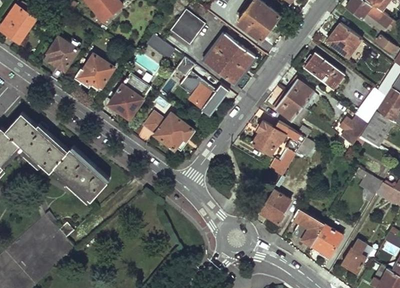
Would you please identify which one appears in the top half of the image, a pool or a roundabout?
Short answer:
pool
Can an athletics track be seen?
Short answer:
No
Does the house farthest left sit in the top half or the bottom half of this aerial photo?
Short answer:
top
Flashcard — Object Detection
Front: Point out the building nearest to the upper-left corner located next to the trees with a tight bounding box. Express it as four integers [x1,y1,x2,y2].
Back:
[0,3,36,46]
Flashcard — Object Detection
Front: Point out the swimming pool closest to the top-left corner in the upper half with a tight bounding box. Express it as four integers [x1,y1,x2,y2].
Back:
[136,54,159,74]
